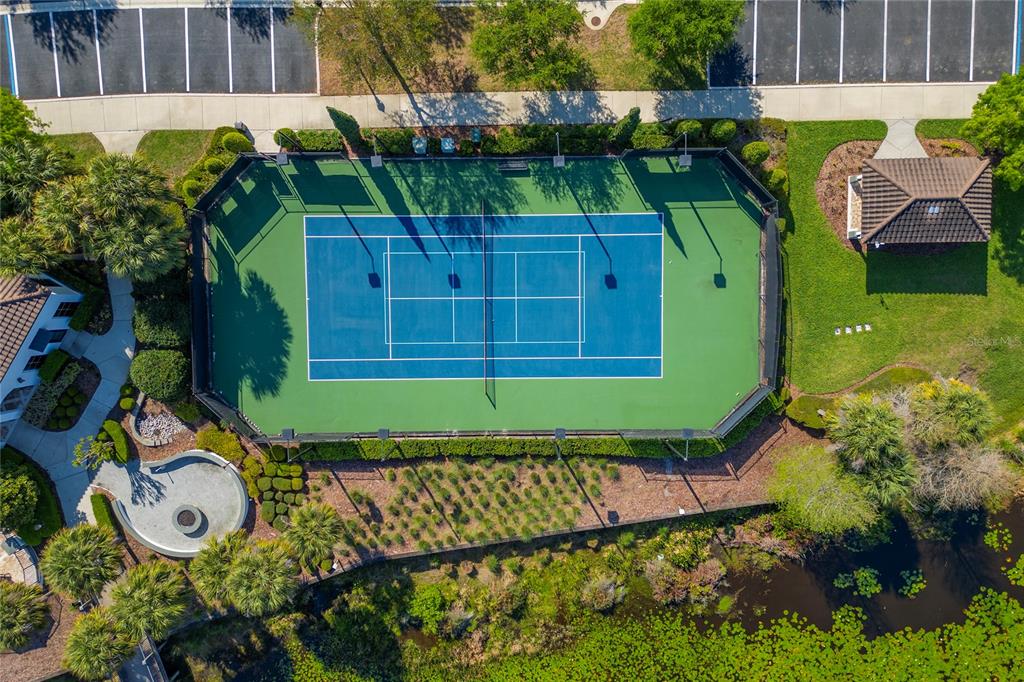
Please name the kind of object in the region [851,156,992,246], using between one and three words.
building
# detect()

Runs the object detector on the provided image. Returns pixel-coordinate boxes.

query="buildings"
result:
[0,257,81,445]
[851,156,992,246]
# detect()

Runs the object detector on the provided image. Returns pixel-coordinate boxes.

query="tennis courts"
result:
[211,158,761,432]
